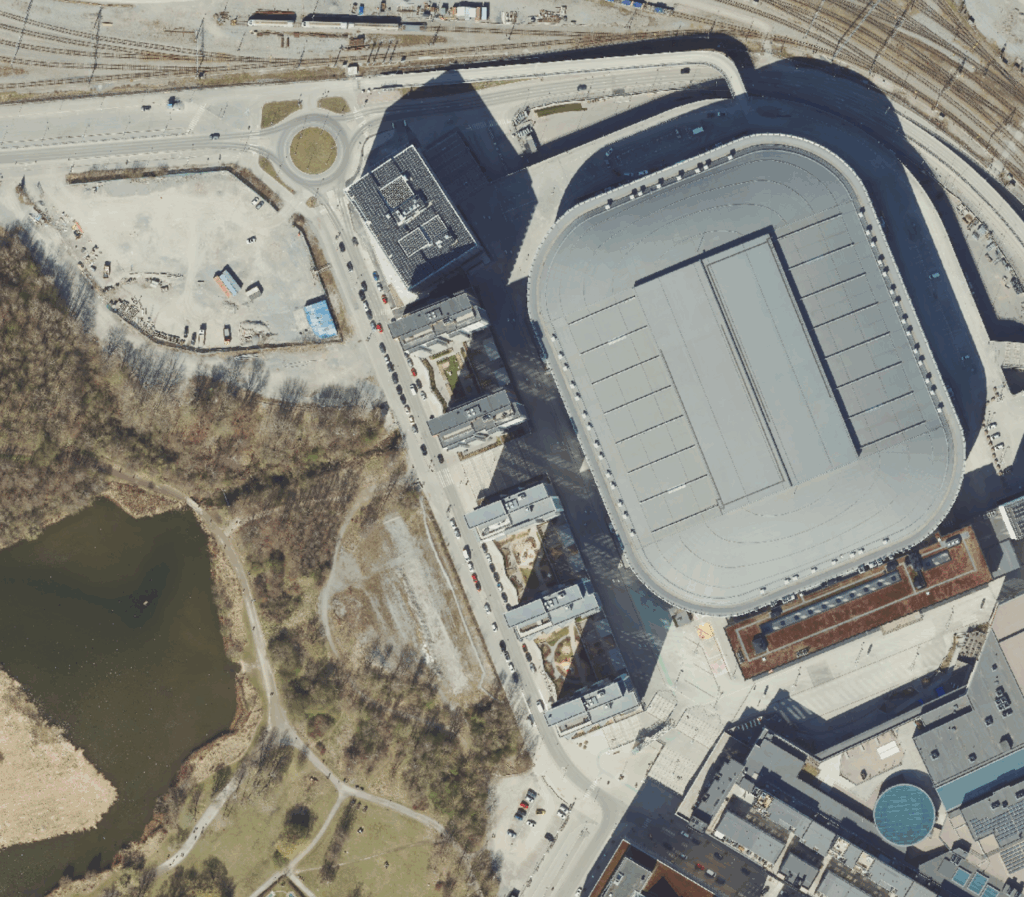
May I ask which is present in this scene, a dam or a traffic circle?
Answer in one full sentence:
The one in the frame is a traffic circle.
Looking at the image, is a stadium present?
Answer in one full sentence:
Yes, I can see a stadium in this picture.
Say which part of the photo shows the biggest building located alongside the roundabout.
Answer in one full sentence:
Look in the top portion of the view to spot the biggest building located alongside the roundabout.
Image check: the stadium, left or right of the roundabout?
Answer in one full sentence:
You can see the stadium positioned to the right of the roundabout.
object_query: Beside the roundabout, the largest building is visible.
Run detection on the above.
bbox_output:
[347,146,482,296]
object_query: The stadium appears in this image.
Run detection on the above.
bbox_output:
[528,134,965,626]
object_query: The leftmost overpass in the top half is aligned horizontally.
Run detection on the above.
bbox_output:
[351,49,747,99]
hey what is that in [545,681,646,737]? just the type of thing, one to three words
building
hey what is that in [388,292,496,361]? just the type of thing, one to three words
building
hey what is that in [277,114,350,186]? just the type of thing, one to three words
roundabout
